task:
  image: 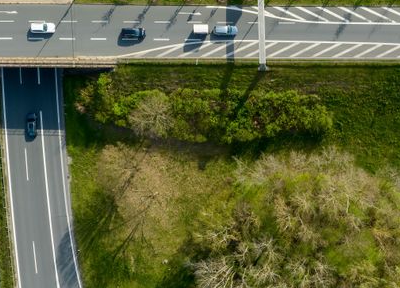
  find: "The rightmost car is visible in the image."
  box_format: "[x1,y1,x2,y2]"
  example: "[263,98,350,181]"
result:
[212,24,238,36]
